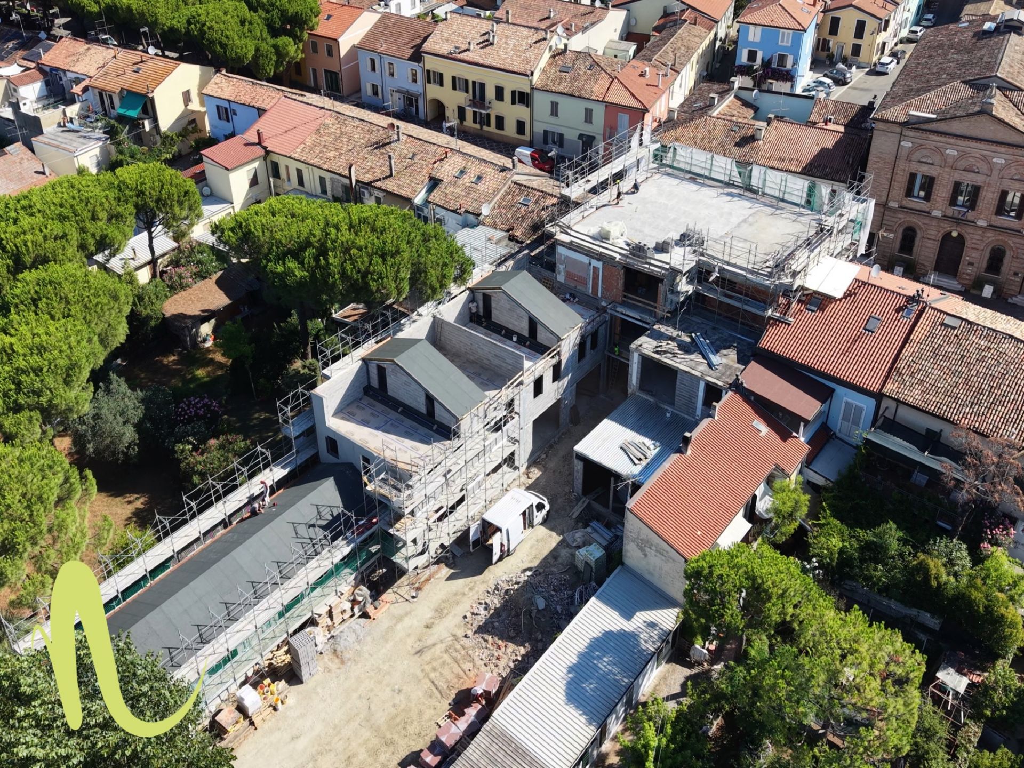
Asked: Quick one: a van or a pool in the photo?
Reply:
van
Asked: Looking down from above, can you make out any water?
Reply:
No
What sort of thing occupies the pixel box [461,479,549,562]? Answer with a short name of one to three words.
van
